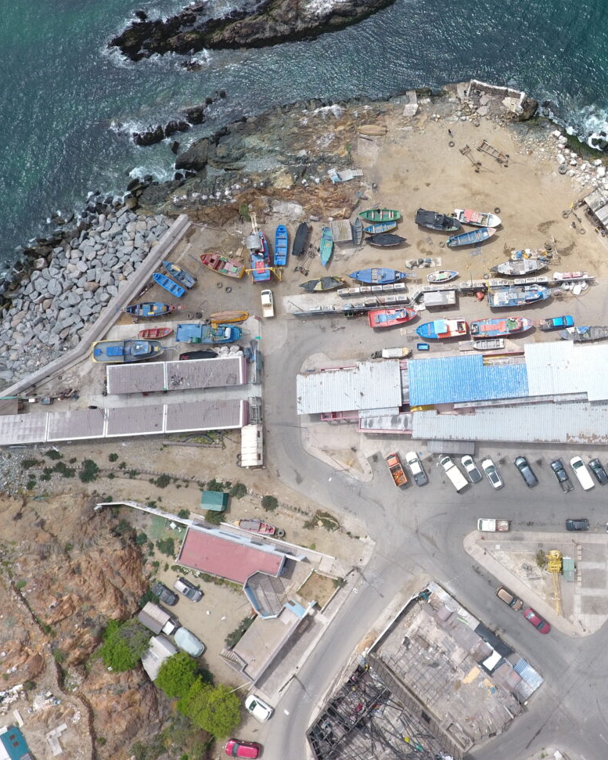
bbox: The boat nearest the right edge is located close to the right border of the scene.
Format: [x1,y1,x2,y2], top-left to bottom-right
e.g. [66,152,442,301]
[560,324,608,342]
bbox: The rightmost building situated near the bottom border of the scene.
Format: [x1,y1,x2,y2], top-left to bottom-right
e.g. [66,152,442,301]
[306,579,543,760]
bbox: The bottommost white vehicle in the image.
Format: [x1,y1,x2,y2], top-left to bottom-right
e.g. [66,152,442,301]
[243,692,276,724]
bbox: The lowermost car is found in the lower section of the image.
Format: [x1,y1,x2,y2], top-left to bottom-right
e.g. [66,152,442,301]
[224,739,263,760]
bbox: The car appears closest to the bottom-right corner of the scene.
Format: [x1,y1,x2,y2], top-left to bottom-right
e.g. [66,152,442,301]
[522,606,552,634]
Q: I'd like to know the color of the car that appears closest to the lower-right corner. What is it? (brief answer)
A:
red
